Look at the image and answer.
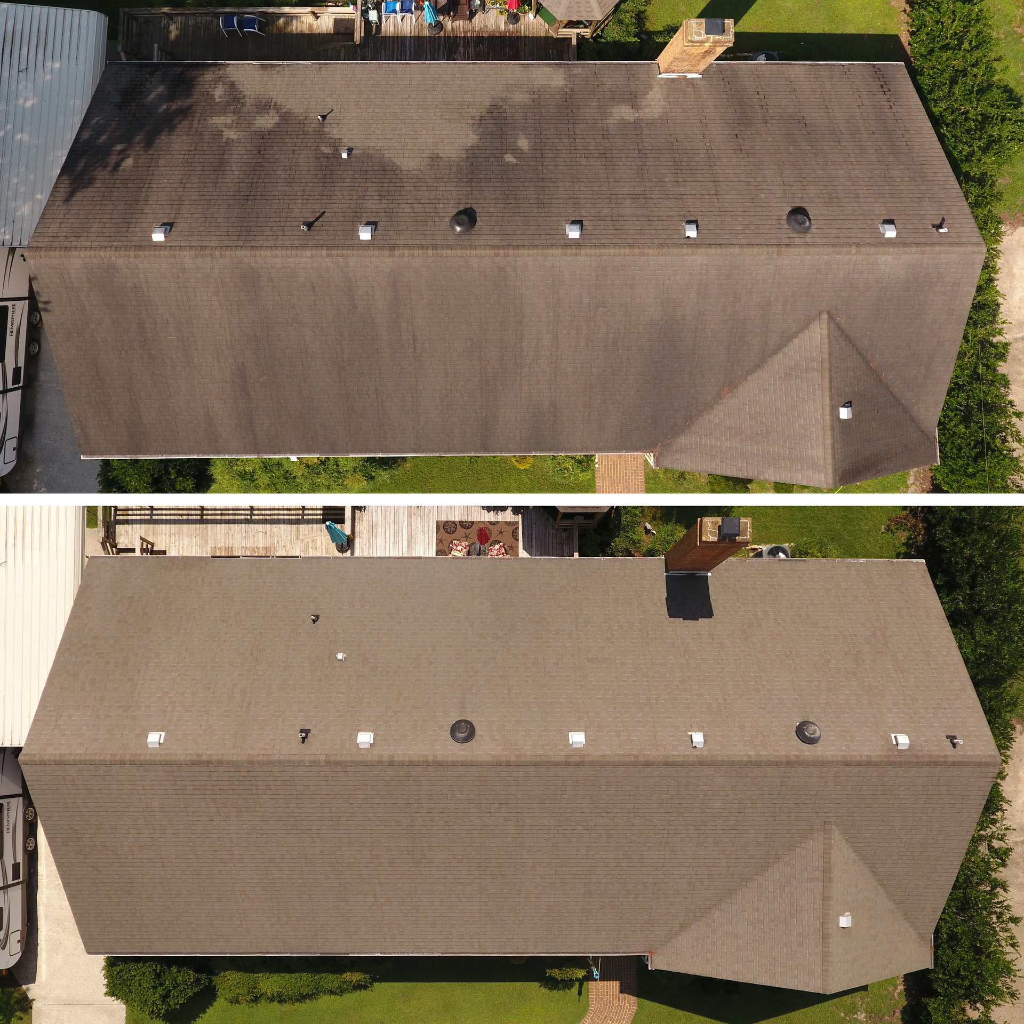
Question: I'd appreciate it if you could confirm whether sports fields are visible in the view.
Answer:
No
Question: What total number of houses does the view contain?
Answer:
2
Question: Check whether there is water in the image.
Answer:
No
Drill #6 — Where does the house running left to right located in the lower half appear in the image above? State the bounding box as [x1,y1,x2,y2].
[20,516,1000,995]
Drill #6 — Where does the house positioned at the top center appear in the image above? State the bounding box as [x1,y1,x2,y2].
[29,11,984,489]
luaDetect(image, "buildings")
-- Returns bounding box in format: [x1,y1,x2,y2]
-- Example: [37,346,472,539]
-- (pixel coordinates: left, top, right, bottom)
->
[20,516,1000,995]
[29,11,984,489]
